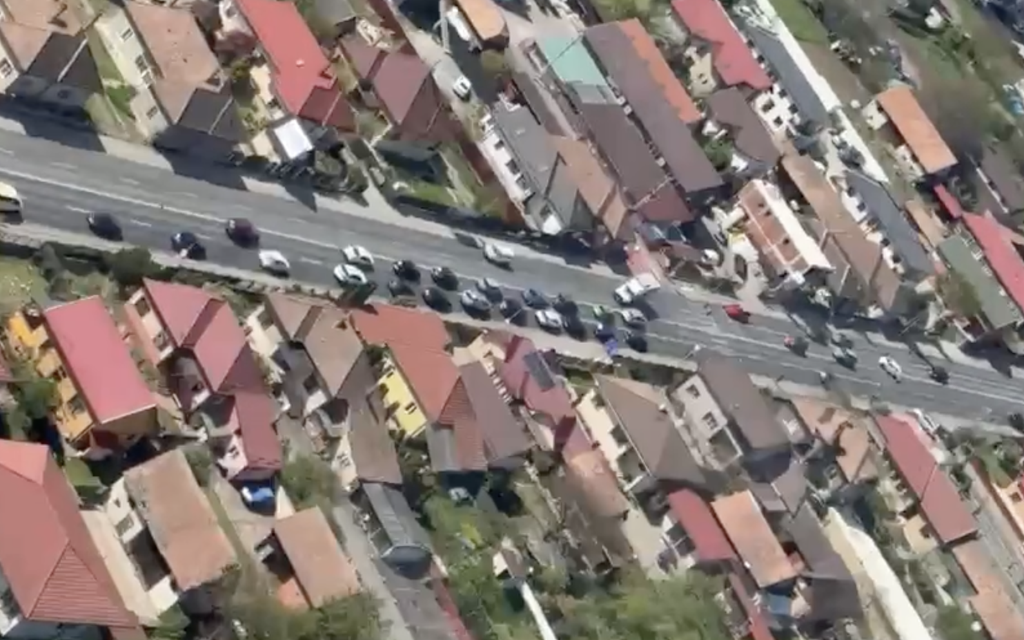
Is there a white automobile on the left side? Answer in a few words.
Yes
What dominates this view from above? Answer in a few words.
buildings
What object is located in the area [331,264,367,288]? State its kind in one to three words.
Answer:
car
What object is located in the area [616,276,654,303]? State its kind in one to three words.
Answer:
truck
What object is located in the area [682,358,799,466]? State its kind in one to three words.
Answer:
house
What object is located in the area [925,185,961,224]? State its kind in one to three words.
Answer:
shed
